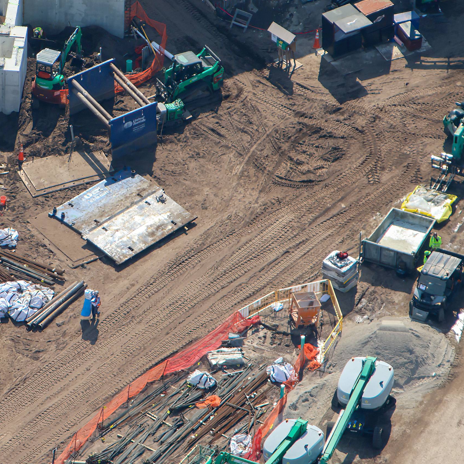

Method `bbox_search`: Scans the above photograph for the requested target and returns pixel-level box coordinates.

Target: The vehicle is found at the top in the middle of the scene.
[151,41,233,105]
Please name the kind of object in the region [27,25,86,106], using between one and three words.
work vehicle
